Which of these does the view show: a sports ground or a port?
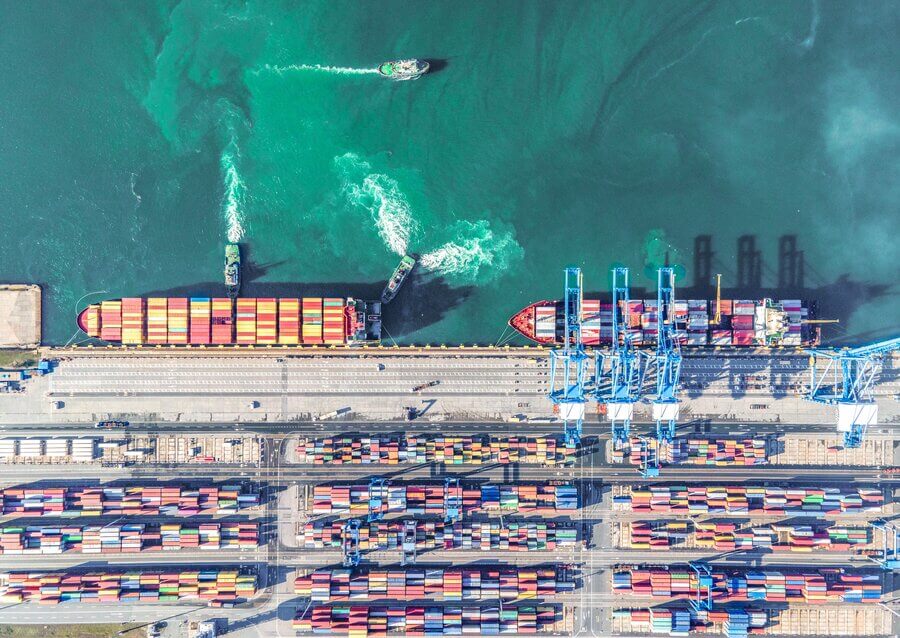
port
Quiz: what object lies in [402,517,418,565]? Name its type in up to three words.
crane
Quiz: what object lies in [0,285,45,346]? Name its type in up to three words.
pier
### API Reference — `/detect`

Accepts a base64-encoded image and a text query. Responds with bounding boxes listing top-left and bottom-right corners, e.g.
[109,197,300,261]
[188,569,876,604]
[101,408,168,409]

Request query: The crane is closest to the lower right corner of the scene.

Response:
[868,520,898,571]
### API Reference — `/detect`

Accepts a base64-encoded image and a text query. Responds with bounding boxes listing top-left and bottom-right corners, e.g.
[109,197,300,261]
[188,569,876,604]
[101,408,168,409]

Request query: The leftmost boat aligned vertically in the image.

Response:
[224,244,242,297]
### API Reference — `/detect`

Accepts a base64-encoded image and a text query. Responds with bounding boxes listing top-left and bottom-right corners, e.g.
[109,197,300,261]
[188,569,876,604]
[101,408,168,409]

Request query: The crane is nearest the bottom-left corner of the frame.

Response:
[343,517,362,565]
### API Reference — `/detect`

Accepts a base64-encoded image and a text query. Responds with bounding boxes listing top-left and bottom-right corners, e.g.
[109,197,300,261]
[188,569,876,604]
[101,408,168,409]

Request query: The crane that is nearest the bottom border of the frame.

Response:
[687,560,712,611]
